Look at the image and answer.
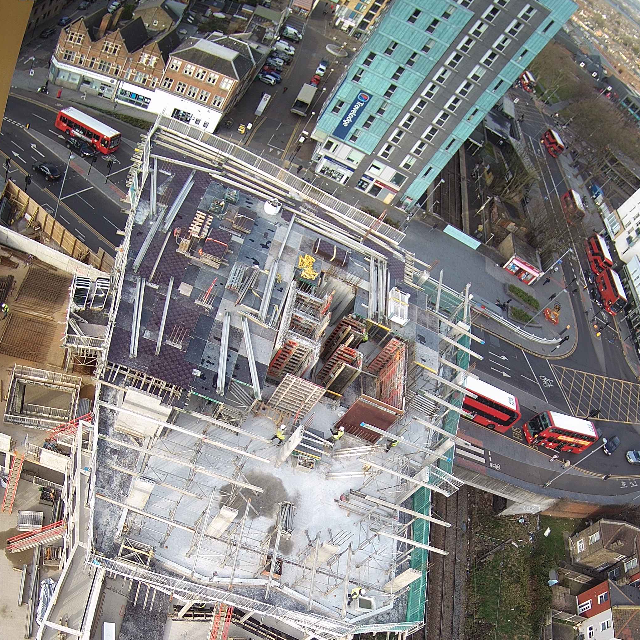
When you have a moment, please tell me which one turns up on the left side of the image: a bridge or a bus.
bus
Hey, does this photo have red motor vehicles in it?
Yes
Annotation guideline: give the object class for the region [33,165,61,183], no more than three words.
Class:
car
